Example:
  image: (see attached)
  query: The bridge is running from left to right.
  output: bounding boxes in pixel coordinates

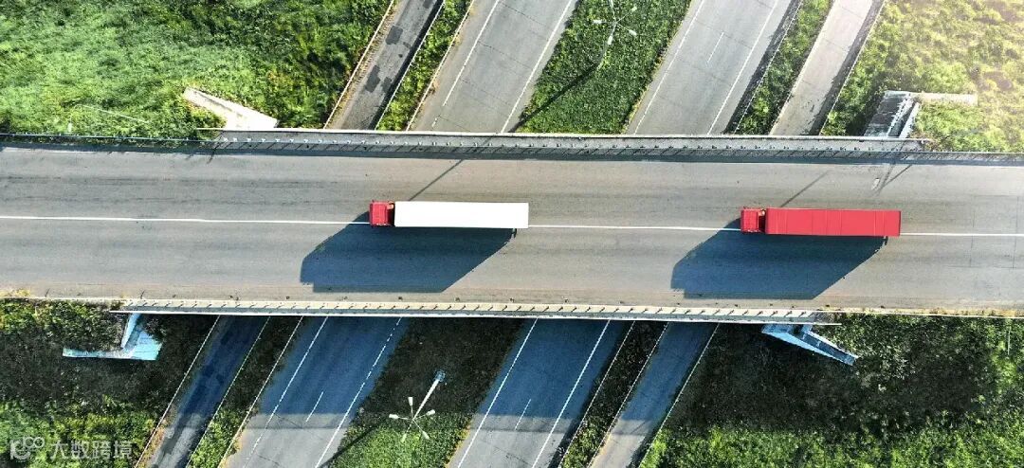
[63,86,981,366]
